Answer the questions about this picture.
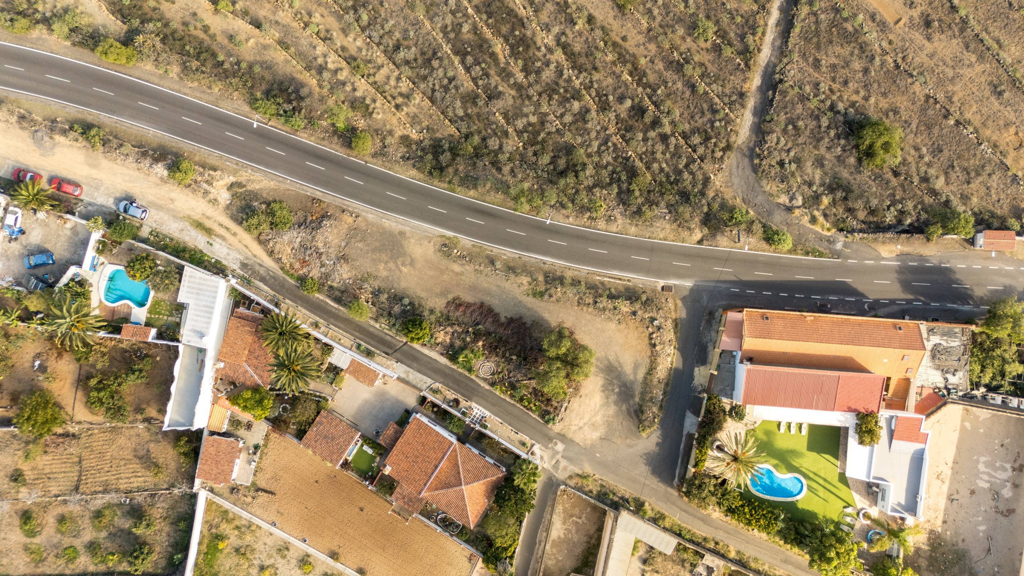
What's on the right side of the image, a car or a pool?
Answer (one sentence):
What appears on the right side of the image is a pool.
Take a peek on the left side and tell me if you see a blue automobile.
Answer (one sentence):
Yes, a blue automobile shows up on the left side.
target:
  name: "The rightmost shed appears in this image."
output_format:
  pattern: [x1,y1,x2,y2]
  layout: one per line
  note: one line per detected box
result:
[965,230,1016,251]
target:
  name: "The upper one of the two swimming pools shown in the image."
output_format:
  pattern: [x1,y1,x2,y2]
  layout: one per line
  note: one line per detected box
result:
[99,264,155,313]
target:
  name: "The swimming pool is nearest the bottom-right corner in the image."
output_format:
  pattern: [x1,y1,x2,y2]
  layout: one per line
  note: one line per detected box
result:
[747,463,807,501]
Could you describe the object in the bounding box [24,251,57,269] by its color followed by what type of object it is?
blue car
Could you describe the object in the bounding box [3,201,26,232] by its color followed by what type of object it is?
white car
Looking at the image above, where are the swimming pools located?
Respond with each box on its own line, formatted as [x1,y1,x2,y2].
[747,463,807,501]
[99,264,155,313]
